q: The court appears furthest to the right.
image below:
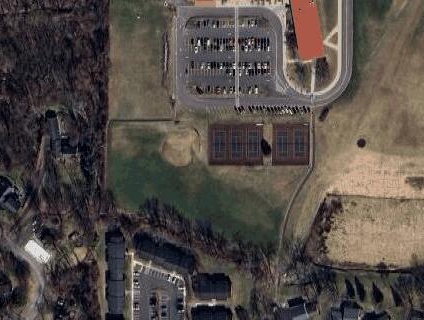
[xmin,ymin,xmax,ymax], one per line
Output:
[291,124,309,165]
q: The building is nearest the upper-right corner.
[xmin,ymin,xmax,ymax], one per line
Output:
[291,0,323,60]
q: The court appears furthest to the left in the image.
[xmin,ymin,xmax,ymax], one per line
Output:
[209,124,228,165]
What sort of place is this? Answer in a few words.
sports ground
